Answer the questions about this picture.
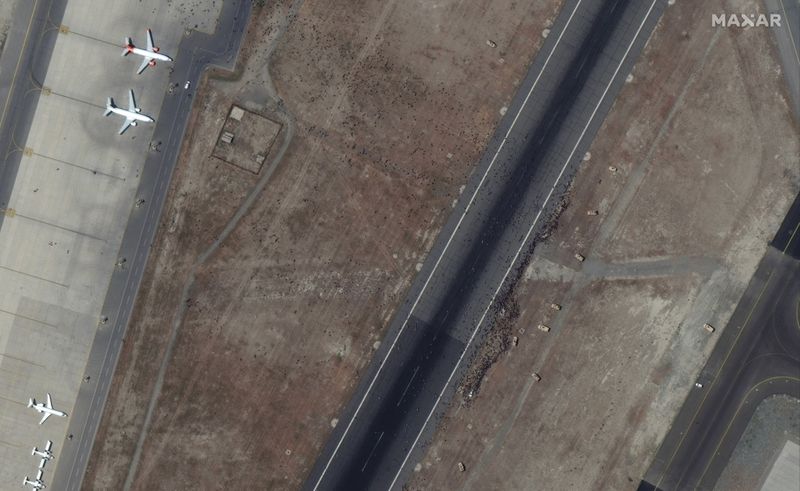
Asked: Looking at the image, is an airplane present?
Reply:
Yes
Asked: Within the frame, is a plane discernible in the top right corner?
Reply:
No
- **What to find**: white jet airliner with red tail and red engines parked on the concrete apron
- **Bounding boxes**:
[123,30,172,73]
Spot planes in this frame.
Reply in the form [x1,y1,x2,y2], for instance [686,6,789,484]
[28,393,66,424]
[23,472,45,491]
[31,443,53,469]
[105,91,153,134]
[123,30,172,73]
